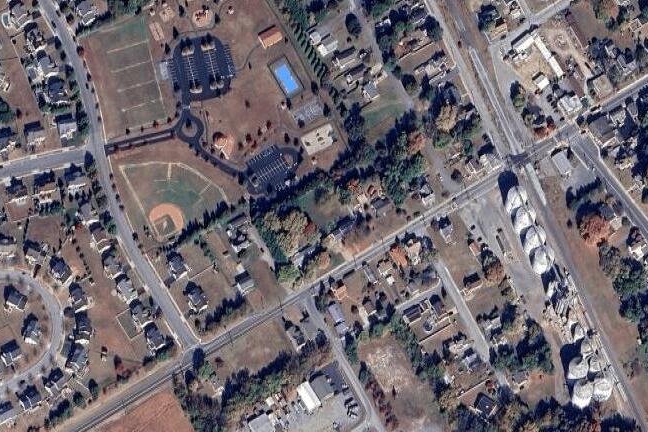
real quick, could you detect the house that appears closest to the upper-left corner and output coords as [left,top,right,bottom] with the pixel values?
[8,0,33,23]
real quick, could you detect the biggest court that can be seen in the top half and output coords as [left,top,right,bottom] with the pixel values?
[302,123,339,155]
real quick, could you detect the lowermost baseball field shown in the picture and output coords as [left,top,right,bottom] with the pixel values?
[122,161,230,243]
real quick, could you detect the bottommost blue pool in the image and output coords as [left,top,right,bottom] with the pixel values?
[268,55,304,95]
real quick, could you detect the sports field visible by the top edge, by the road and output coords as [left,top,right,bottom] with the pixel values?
[83,15,169,138]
